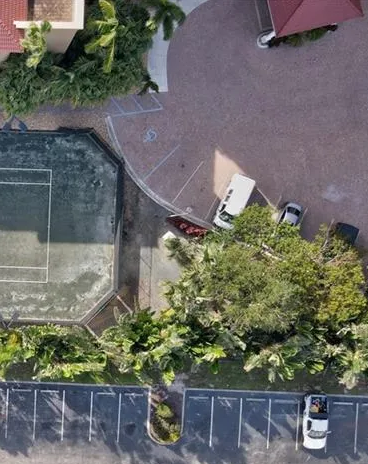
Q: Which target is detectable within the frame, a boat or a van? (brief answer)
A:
van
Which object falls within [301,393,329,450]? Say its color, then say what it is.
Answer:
white truck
